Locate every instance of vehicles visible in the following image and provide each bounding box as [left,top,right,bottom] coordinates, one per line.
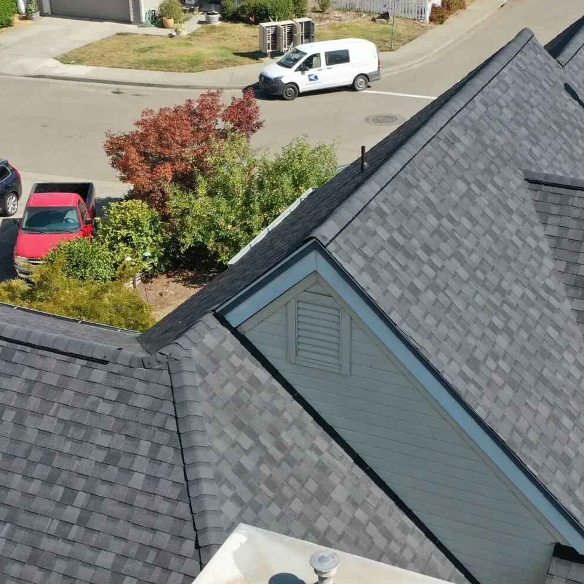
[14,179,92,266]
[252,35,385,101]
[0,160,19,215]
